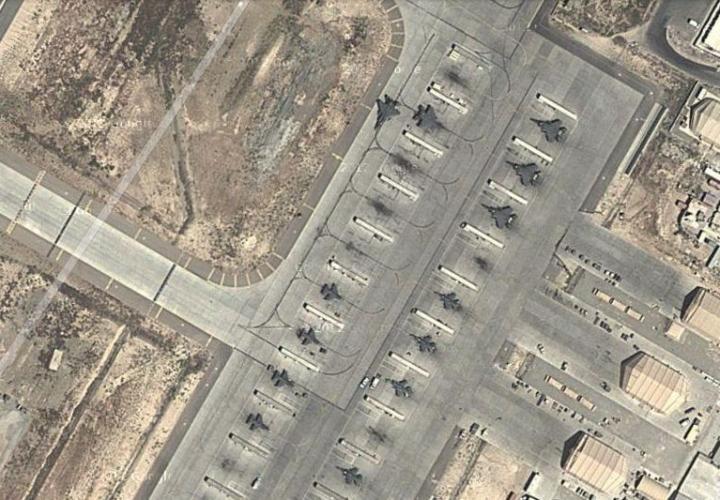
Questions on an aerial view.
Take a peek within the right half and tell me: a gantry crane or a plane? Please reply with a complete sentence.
It is a plane that can be seen within the right half.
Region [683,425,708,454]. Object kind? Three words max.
building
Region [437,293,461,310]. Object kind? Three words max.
airplane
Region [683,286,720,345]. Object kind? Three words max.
hangar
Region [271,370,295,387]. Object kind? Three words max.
airplane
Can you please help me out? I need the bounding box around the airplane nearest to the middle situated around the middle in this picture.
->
[320,283,345,300]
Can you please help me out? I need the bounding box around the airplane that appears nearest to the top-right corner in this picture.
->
[534,121,566,143]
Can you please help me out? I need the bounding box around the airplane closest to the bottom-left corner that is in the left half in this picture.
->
[247,413,271,430]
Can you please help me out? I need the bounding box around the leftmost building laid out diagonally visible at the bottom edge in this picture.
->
[521,472,549,500]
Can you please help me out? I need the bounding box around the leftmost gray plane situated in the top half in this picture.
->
[379,98,400,131]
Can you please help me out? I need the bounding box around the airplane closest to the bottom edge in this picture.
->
[338,468,362,486]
